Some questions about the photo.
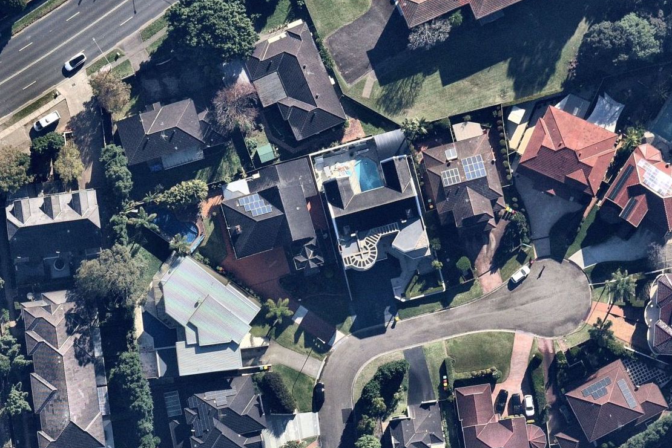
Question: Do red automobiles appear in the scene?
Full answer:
No, the photo shows no red automobile.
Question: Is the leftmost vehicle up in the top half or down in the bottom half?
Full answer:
You can find the leftmost vehicle in the top half.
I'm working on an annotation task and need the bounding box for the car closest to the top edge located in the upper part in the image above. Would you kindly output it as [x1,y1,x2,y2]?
[64,52,87,71]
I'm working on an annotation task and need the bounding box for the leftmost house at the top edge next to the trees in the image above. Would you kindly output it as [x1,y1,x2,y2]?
[245,19,346,141]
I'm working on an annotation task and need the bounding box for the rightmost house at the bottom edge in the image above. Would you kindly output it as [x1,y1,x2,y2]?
[565,360,669,442]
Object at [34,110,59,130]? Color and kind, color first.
white vehicle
